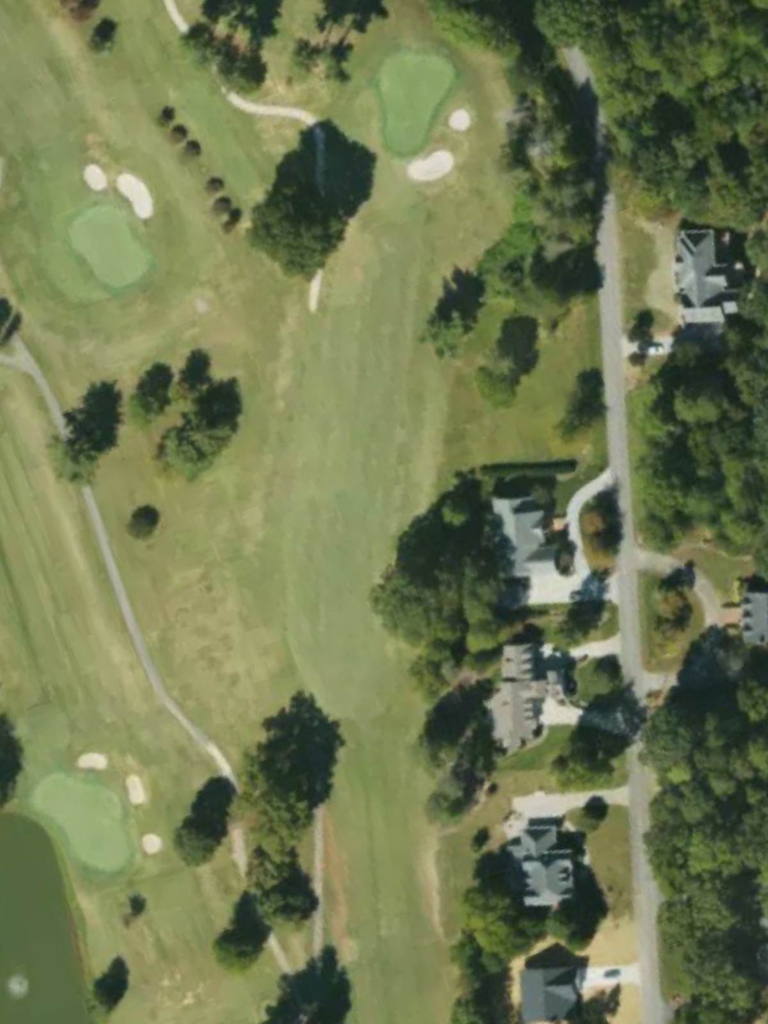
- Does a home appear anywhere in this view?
Yes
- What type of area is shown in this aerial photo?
golf course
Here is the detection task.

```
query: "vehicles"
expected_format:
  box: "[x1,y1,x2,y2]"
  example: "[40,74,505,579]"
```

[648,345,664,352]
[605,970,620,977]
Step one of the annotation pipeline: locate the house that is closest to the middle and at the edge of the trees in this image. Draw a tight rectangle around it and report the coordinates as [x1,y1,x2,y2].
[491,498,558,578]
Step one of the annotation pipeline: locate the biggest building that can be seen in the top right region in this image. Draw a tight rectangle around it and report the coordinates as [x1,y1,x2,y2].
[674,229,730,323]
